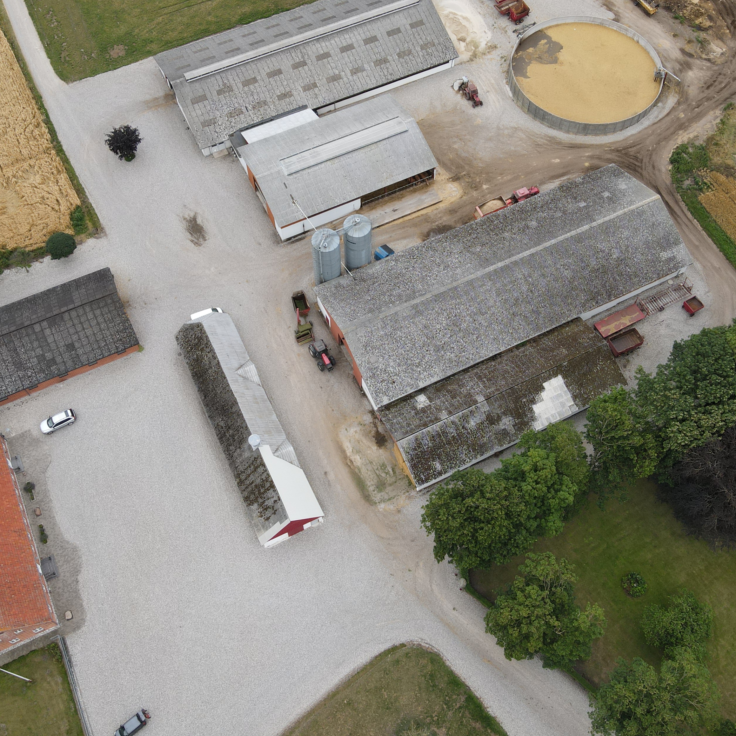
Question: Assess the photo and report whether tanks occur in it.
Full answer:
Yes, I can see a tank in this picture.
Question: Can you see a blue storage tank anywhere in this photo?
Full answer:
No, the scene contains no blue storage tank.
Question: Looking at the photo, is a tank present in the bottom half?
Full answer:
No, I see no tank in the bottom half.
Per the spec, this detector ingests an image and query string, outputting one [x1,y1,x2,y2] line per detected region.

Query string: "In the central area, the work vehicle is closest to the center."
[308,339,341,379]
